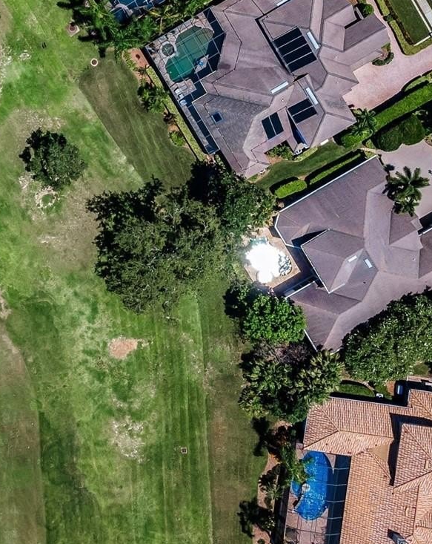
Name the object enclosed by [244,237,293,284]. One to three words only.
swimming pool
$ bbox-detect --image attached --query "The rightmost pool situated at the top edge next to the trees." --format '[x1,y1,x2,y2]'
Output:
[160,26,215,84]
